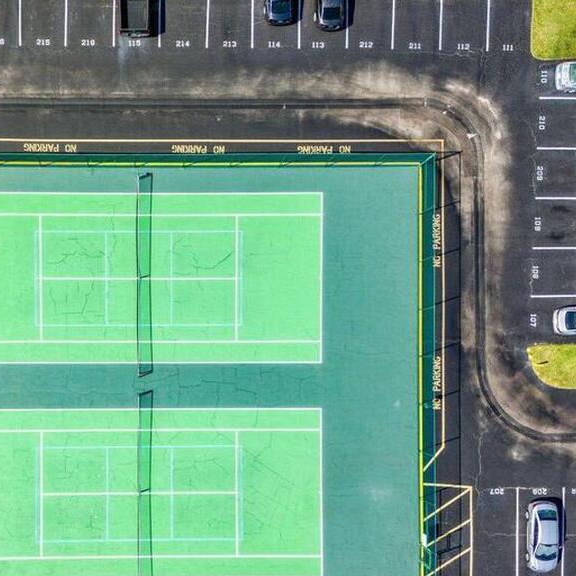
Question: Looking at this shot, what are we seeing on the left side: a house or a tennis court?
tennis court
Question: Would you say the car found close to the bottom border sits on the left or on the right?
right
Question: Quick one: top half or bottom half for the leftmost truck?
top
